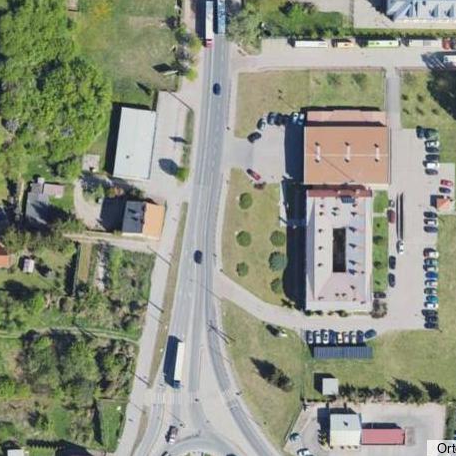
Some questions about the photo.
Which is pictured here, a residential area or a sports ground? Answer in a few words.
residential area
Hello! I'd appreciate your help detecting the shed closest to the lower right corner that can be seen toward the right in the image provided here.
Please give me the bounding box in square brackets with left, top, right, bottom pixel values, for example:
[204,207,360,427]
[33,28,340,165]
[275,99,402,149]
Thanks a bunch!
[361,429,404,444]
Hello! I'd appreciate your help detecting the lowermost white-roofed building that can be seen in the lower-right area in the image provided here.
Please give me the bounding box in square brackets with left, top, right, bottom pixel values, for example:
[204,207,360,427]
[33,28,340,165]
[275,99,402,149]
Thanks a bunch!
[330,413,361,445]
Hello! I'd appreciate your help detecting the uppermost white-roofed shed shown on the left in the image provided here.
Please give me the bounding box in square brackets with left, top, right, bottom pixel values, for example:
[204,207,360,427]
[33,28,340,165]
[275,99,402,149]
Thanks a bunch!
[113,106,156,182]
